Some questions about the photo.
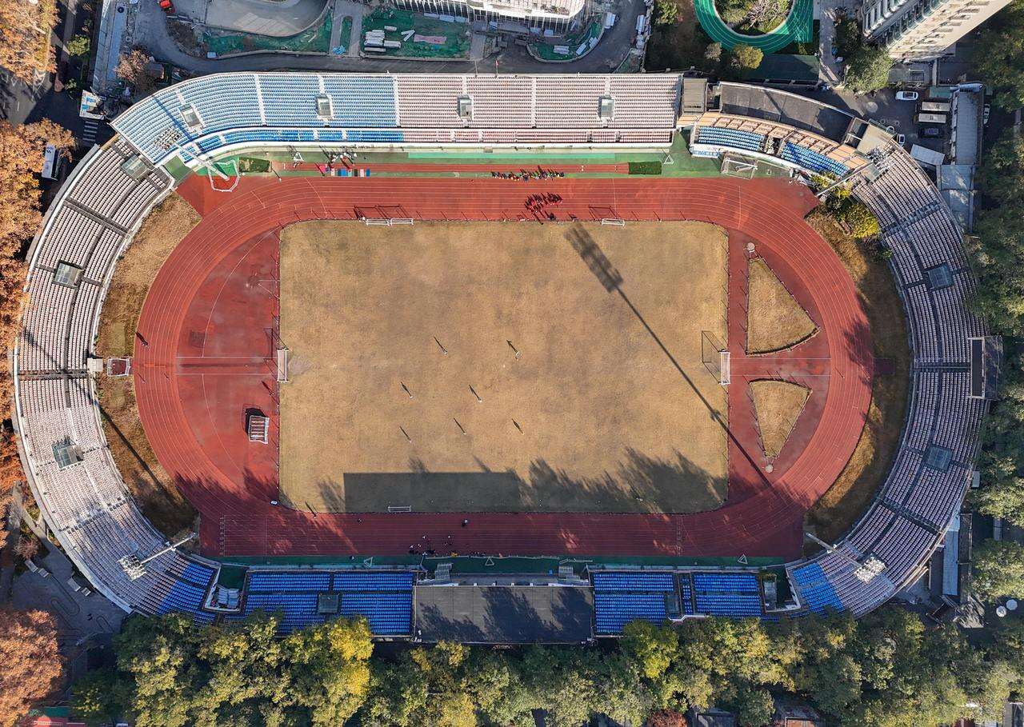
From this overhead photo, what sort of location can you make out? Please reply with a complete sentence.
This image shows a sports ground.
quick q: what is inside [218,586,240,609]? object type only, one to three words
shed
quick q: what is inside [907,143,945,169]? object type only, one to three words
shed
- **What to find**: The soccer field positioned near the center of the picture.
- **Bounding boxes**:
[280,223,728,512]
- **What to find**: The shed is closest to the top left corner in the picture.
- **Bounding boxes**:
[138,55,164,75]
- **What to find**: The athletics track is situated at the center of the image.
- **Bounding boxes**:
[136,175,895,561]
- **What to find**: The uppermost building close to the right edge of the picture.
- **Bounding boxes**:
[862,0,1013,63]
